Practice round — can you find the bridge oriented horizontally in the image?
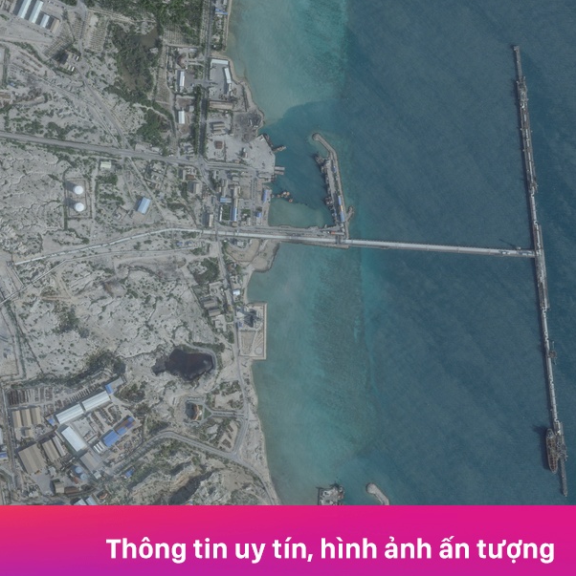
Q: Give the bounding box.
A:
[342,239,536,257]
